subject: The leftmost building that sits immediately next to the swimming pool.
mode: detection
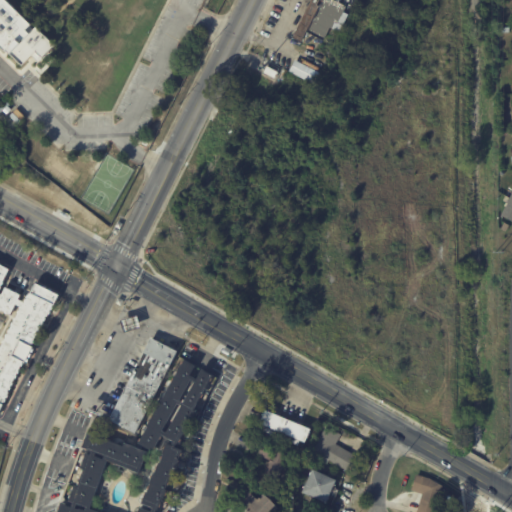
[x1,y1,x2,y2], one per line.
[58,448,108,512]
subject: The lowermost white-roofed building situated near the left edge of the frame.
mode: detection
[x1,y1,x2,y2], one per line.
[0,336,36,403]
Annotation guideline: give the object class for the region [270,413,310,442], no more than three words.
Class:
building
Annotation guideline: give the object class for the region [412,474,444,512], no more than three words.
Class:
house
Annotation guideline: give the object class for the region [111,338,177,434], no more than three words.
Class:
building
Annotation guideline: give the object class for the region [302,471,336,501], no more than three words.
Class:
house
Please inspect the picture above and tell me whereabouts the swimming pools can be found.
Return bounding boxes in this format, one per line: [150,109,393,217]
[108,476,130,508]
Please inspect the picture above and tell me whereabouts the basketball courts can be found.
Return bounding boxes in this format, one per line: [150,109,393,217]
[82,154,134,214]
